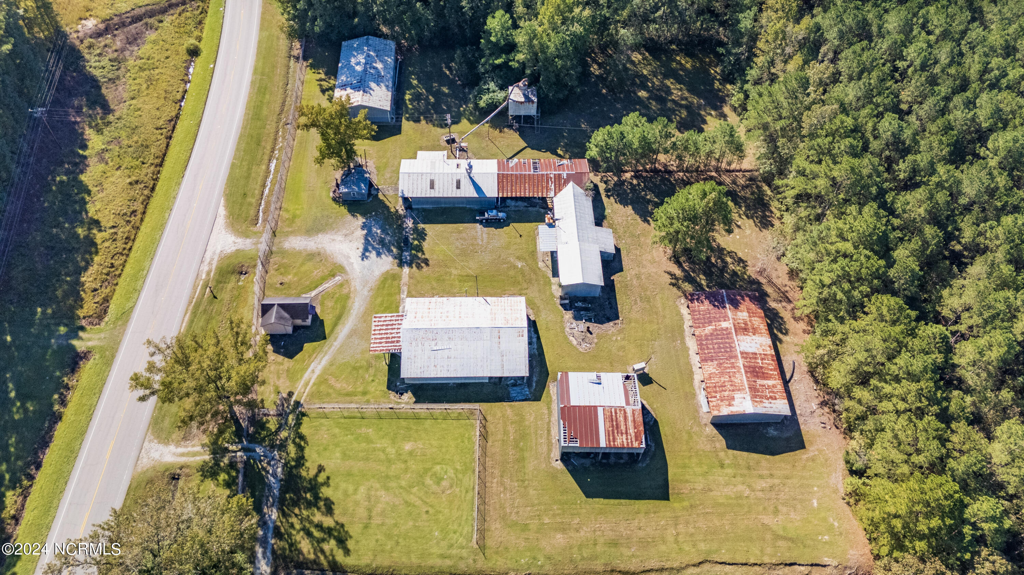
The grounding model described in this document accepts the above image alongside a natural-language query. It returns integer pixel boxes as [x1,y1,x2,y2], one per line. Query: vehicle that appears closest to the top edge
[475,209,507,222]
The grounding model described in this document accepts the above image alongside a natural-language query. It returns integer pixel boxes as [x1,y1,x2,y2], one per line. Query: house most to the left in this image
[260,297,319,334]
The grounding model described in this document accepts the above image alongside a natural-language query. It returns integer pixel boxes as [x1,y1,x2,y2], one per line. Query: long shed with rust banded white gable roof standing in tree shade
[332,35,401,121]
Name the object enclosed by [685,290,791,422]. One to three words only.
barn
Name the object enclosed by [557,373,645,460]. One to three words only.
barn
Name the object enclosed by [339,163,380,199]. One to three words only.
house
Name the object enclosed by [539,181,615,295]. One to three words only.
building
